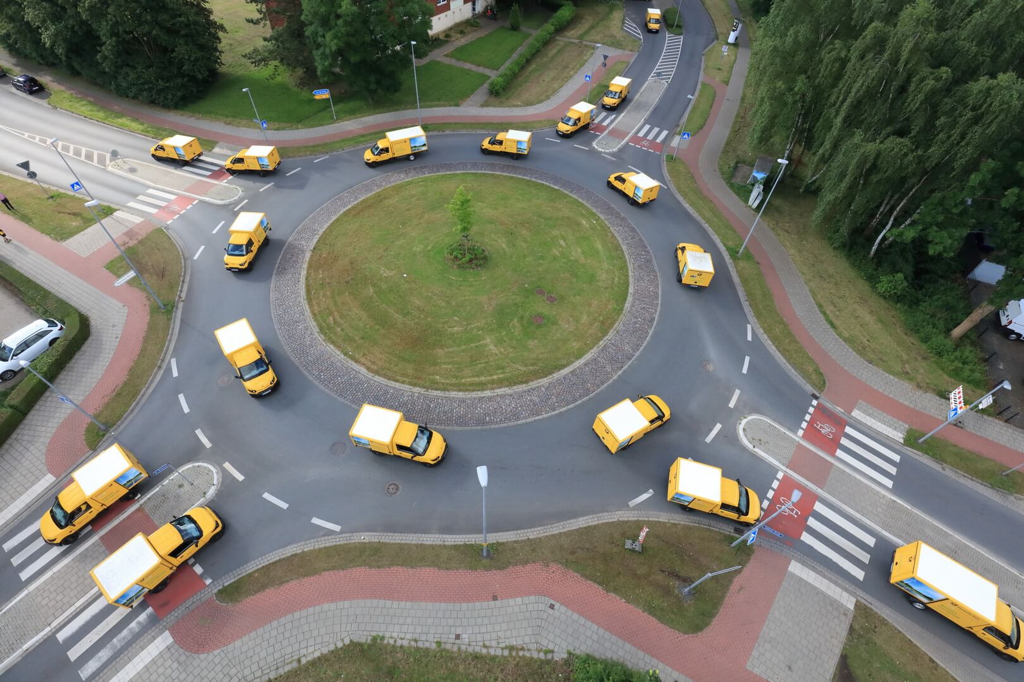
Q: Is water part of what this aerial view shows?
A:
No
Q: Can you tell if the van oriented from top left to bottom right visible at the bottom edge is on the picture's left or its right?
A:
right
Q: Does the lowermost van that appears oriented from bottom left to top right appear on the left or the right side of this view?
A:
left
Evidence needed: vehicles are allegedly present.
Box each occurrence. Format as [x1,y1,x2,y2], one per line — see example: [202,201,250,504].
[148,134,205,166]
[601,76,632,112]
[216,319,277,398]
[999,302,1024,340]
[480,129,531,159]
[554,101,596,139]
[594,393,673,455]
[888,542,1024,668]
[666,459,762,530]
[220,212,272,272]
[92,507,227,611]
[7,73,41,94]
[223,145,282,177]
[676,243,714,290]
[363,126,428,166]
[644,8,662,35]
[351,406,446,469]
[607,170,659,207]
[36,445,152,548]
[0,310,65,376]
